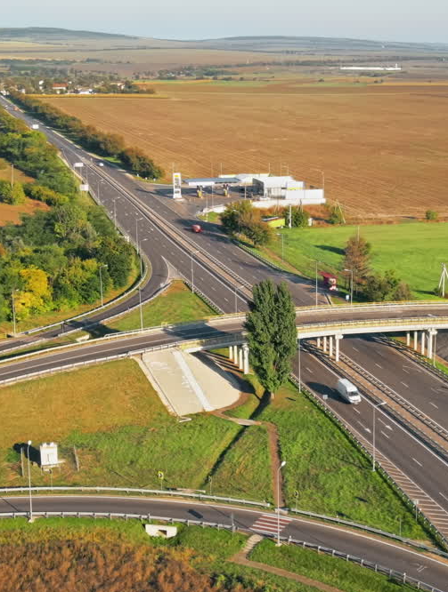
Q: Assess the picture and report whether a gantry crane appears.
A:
No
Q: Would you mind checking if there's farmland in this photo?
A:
Yes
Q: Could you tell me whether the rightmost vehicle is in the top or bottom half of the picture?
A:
bottom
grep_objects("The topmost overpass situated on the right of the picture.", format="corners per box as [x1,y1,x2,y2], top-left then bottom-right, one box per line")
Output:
[110,300,448,375]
